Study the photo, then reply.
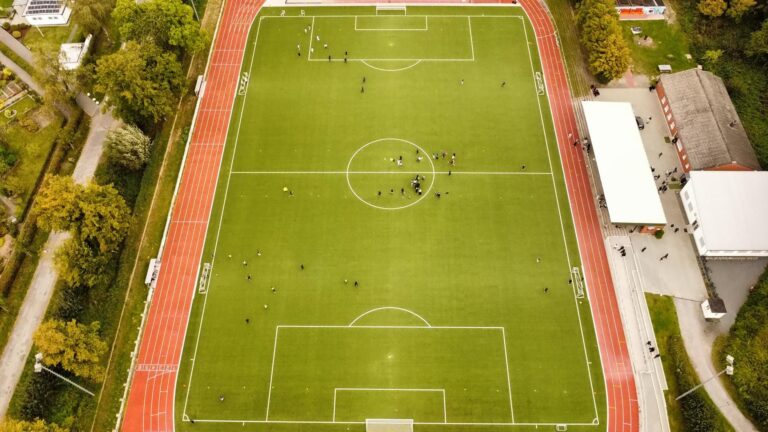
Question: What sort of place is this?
sports ground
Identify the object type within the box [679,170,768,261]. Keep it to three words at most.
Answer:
building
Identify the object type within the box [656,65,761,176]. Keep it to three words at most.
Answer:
building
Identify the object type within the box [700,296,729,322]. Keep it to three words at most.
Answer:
shed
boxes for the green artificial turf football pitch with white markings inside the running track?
[174,7,607,432]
